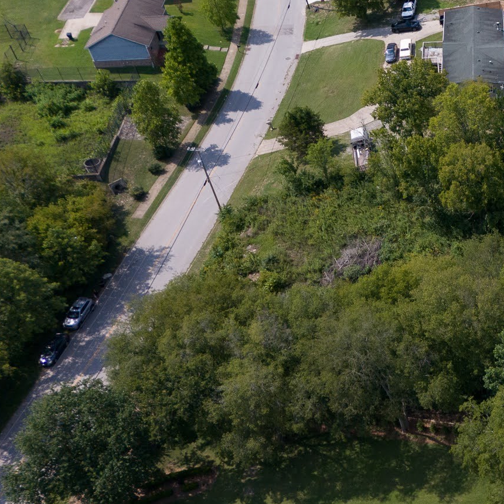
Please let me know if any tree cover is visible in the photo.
Yes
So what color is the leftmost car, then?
black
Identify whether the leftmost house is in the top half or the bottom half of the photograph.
top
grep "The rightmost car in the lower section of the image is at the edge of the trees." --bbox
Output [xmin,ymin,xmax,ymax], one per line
[57,294,100,332]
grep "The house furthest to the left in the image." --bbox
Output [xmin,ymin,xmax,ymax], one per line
[80,0,177,70]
